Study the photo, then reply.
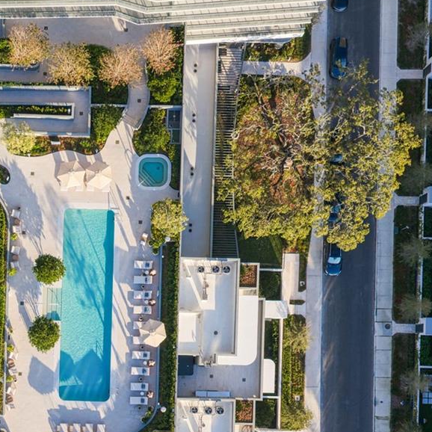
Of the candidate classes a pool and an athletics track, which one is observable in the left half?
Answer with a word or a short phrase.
pool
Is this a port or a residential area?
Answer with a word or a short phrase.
residential area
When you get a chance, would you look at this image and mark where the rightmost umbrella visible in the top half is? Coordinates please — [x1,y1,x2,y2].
[85,160,112,186]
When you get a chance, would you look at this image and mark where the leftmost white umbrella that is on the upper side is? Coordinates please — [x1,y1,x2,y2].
[57,158,83,186]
